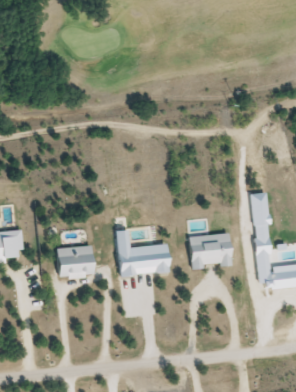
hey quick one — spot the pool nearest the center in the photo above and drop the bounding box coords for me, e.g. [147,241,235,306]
[126,226,152,242]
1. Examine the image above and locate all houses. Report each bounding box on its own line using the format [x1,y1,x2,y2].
[56,245,96,280]
[190,233,234,270]
[116,230,172,278]
[0,230,24,262]
[250,193,296,290]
